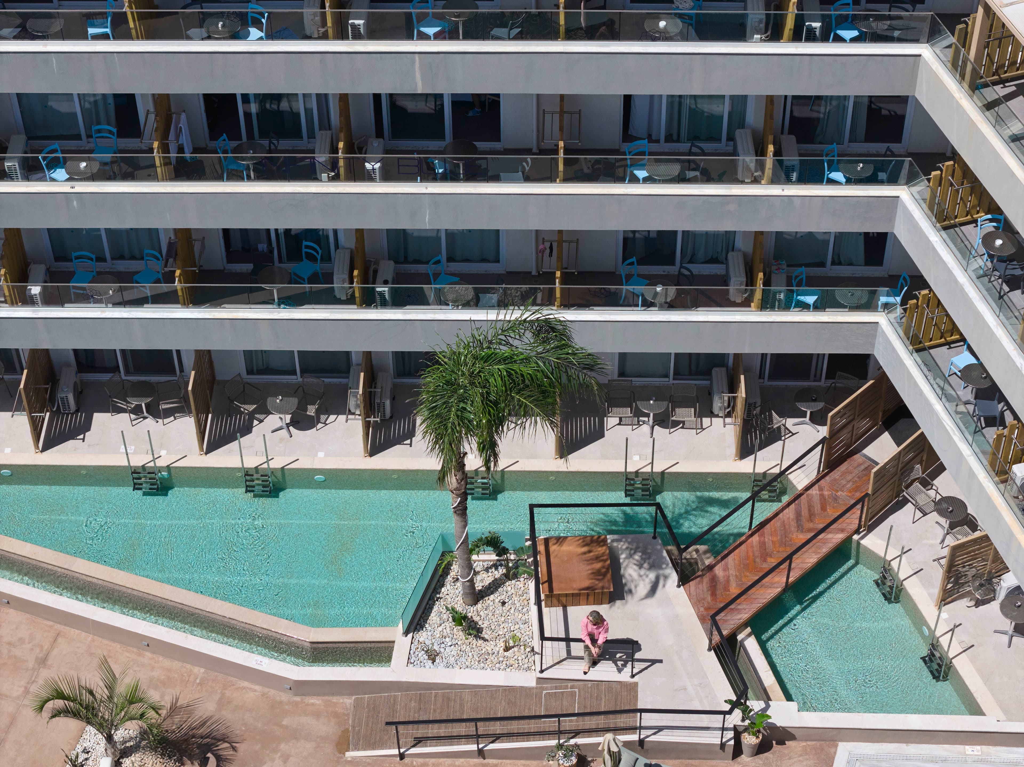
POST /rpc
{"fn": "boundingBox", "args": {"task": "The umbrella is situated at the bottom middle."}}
[592,732,629,767]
